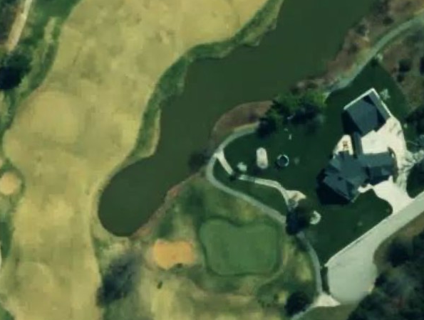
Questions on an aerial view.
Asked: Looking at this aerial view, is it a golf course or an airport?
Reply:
golf course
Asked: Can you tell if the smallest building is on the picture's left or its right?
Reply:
right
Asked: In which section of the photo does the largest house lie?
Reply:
right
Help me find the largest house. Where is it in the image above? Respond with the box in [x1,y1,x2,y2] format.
[319,130,395,204]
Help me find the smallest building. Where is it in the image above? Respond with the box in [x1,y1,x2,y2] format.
[343,90,391,137]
